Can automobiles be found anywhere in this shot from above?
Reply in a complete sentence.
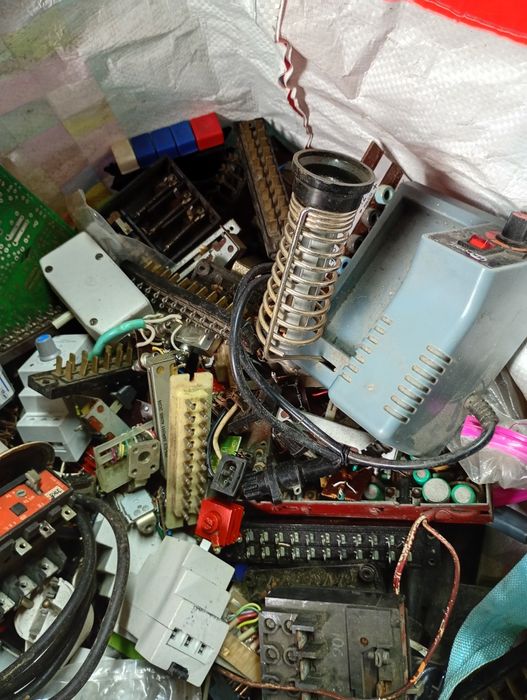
No, no automobile can be seen from above.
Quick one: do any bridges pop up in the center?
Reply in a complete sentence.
No, no bridge appears in the center.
